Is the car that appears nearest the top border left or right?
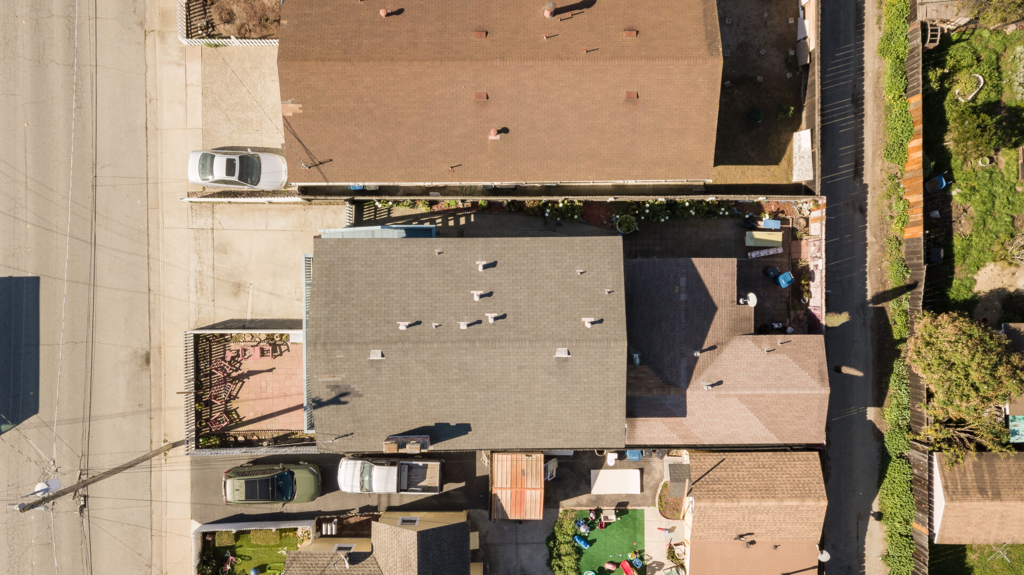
left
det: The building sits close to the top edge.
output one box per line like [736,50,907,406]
[276,0,722,187]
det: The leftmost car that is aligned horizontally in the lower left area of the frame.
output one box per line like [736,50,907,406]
[223,460,321,509]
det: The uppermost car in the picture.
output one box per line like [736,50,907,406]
[186,146,287,192]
